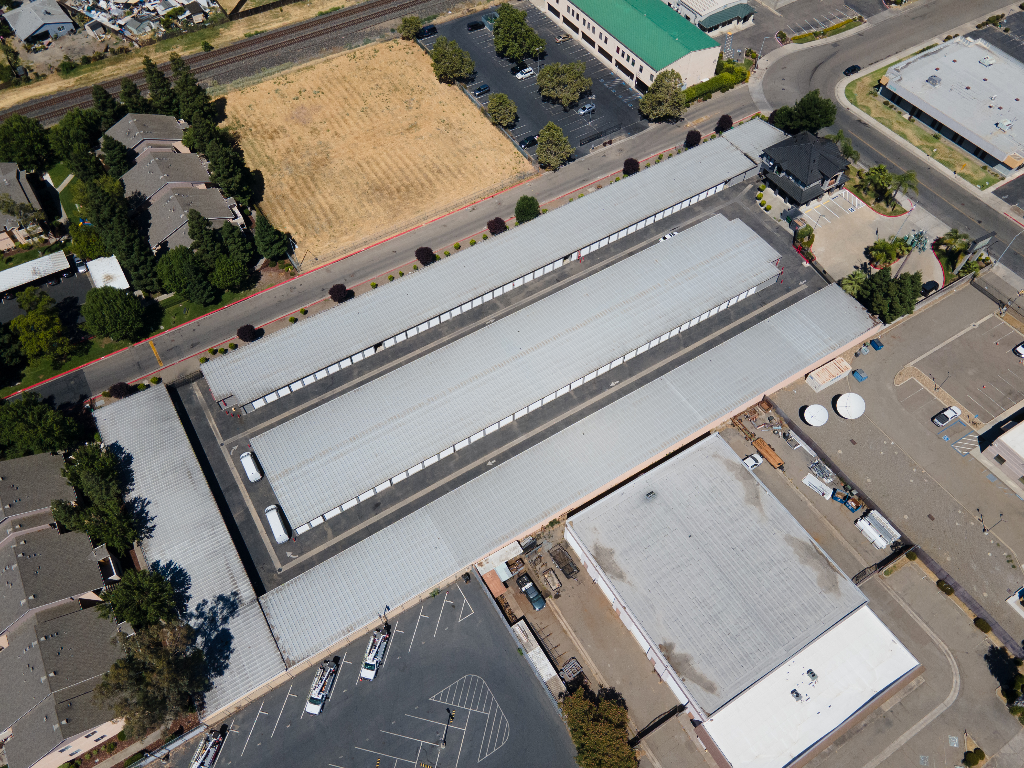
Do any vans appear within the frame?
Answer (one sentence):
Yes, a van can be made out from above.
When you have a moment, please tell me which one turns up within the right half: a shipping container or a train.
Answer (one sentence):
It is a shipping container that can be seen within the right half.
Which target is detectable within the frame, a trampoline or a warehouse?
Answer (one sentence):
It is a warehouse that can be seen here.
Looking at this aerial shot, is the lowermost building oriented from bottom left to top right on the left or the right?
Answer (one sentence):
The lowermost building oriented from bottom left to top right is on the right side of the image.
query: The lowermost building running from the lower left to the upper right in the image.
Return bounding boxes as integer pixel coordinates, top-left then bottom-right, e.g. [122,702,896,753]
[693,602,929,768]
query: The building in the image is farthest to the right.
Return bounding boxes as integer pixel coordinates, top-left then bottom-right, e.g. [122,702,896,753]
[983,416,1024,490]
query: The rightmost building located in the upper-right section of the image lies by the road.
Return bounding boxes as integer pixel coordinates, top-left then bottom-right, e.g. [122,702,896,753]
[874,18,1024,175]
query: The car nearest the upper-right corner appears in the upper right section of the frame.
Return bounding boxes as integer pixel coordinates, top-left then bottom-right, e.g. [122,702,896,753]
[842,66,862,78]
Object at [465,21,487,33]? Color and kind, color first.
black vehicle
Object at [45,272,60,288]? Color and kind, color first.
black car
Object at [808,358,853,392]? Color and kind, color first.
white shipping container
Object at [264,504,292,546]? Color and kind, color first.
white van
